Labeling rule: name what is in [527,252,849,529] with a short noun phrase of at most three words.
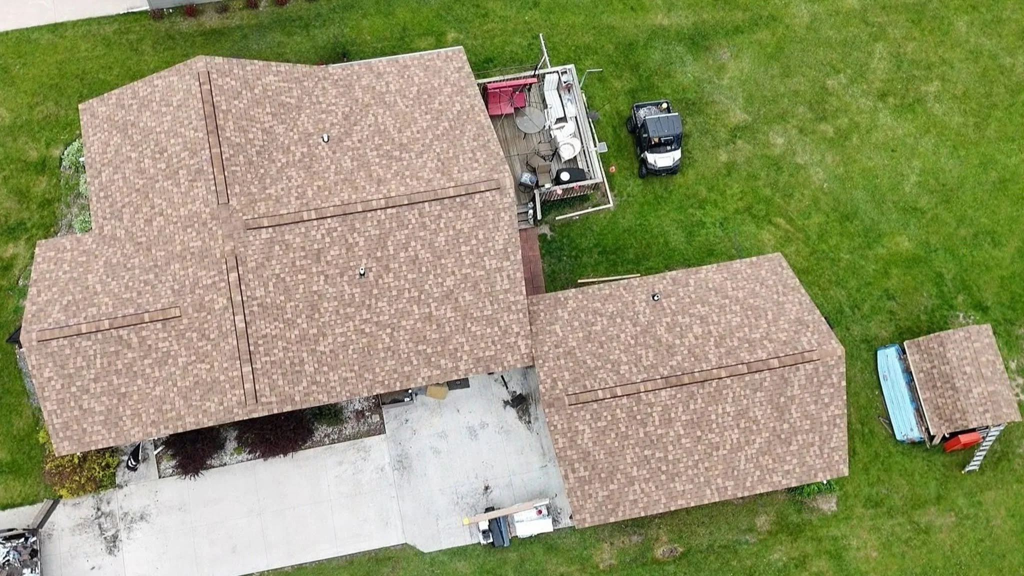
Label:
building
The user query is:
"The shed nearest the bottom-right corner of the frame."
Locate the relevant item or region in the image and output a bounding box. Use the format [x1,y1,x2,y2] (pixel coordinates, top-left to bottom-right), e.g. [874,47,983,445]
[894,324,1021,448]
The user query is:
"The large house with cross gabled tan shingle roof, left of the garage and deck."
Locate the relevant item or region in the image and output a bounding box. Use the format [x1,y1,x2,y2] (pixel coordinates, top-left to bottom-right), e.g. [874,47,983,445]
[8,46,535,456]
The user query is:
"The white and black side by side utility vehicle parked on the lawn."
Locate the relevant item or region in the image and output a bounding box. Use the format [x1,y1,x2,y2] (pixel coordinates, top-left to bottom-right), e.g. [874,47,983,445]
[627,100,682,179]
